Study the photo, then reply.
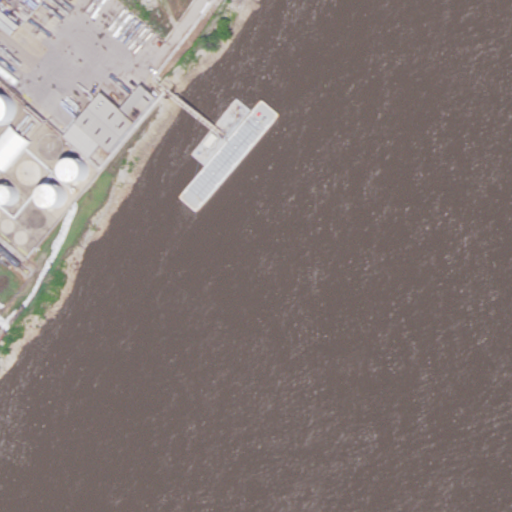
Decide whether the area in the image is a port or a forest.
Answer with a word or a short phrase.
port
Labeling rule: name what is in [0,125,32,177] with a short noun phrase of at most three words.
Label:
building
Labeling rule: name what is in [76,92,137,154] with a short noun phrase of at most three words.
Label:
building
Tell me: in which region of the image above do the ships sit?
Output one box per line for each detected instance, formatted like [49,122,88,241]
[192,98,252,167]
[180,100,279,213]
